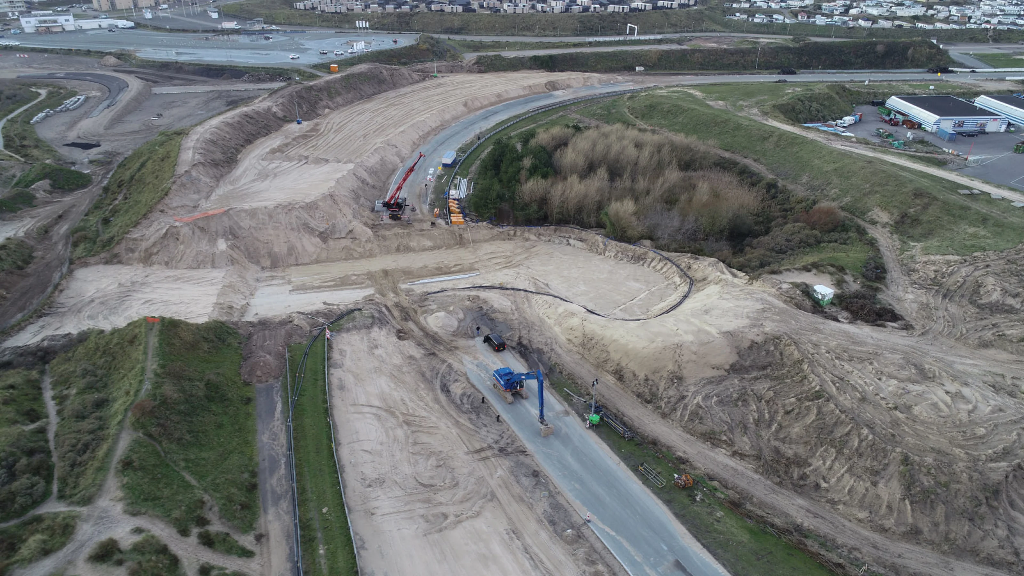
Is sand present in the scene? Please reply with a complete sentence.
Yes, sand can be seen from above here.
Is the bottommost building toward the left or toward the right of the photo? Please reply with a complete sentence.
It is on the right.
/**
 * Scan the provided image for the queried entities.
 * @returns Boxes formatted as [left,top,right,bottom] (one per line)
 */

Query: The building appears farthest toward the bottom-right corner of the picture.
[813,280,840,303]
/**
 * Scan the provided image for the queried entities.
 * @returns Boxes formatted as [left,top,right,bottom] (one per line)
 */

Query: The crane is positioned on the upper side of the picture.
[378,153,430,223]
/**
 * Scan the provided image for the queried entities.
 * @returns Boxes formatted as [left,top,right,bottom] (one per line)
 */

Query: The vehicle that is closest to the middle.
[480,333,507,354]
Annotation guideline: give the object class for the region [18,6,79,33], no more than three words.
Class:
building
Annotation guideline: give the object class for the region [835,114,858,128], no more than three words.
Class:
vehicle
